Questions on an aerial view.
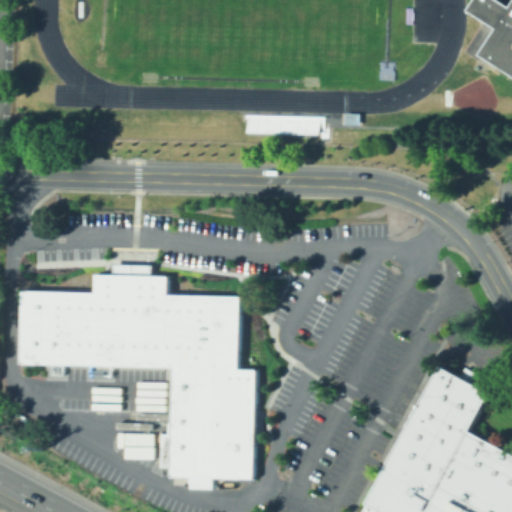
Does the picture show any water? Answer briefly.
No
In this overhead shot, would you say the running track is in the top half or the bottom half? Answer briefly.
top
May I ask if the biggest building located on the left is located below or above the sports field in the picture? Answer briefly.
below it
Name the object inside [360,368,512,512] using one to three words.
building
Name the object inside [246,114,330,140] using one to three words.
building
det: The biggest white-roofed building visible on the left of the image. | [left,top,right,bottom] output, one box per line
[17,265,258,492]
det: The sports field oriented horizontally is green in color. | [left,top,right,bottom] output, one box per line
[59,0,436,90]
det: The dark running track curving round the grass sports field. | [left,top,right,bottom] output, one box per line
[36,0,467,114]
